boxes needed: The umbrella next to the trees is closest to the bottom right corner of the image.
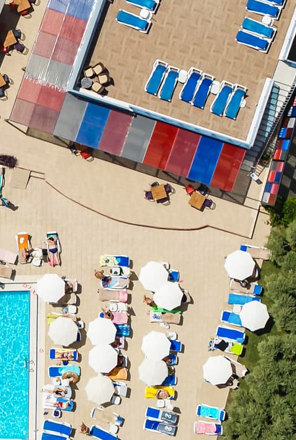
[201,355,232,386]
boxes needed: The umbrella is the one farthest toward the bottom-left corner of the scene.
[83,373,113,403]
